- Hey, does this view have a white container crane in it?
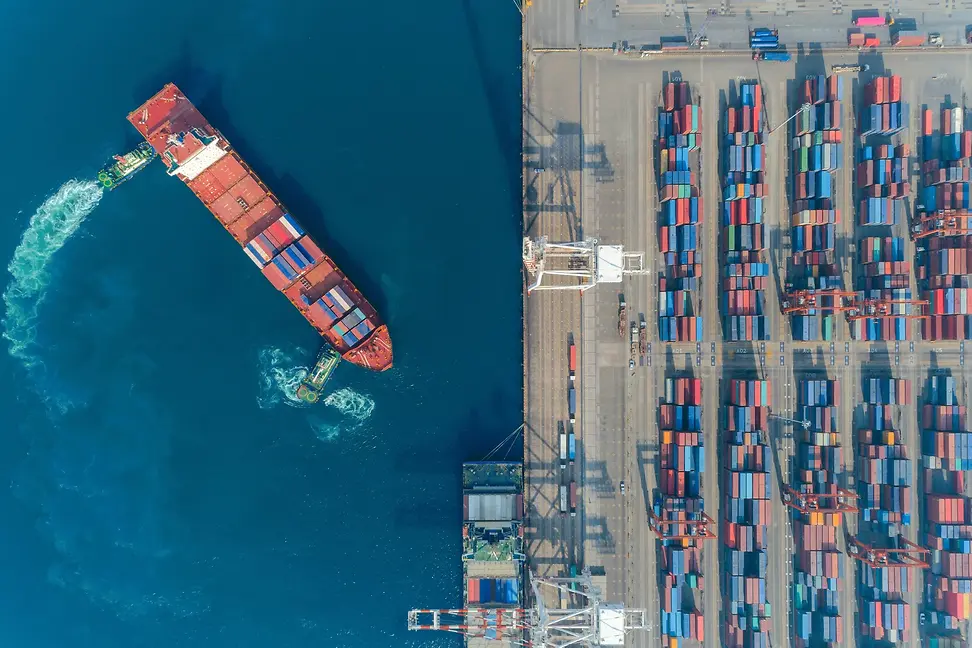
Yes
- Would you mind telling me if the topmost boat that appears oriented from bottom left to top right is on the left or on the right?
left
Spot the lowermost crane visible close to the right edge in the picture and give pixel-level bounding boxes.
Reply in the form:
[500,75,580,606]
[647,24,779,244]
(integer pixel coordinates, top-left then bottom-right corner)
[844,528,929,566]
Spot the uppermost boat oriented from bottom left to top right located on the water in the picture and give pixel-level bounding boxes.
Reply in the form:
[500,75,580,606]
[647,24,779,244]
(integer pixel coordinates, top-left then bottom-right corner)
[96,146,157,192]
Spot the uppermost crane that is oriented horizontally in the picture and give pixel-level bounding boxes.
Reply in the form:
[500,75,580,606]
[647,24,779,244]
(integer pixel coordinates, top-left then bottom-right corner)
[909,213,972,242]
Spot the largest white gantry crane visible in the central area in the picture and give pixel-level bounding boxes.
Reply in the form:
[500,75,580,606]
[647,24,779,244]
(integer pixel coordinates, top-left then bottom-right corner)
[521,233,649,303]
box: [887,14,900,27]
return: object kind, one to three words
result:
vehicle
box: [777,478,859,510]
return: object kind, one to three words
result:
container crane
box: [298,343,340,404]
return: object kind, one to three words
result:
boat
